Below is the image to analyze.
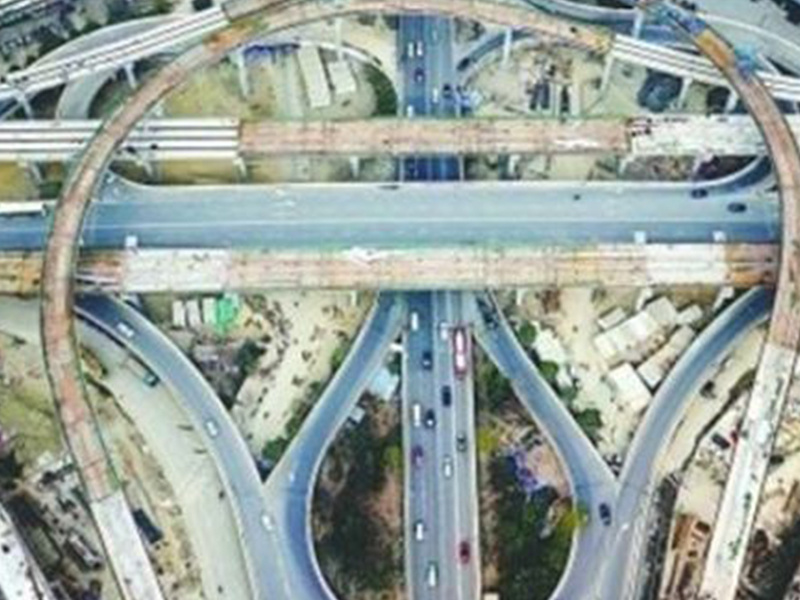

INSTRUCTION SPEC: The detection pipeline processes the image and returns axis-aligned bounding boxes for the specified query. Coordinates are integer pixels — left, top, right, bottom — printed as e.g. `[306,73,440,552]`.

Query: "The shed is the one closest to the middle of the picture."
[371,367,398,404]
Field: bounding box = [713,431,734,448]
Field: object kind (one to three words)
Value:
vehicle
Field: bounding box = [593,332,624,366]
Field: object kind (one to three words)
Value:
shed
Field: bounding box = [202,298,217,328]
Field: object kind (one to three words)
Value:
building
